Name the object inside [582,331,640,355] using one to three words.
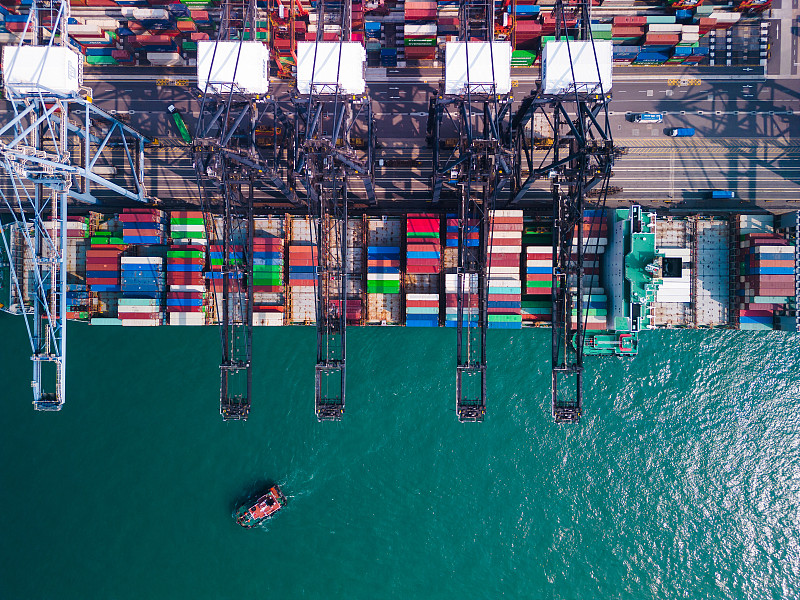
vessel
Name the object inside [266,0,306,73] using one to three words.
container crane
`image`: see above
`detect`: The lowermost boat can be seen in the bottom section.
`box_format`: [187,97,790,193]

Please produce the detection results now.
[237,485,288,524]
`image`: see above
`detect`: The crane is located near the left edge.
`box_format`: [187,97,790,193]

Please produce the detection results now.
[0,0,170,415]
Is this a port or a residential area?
port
